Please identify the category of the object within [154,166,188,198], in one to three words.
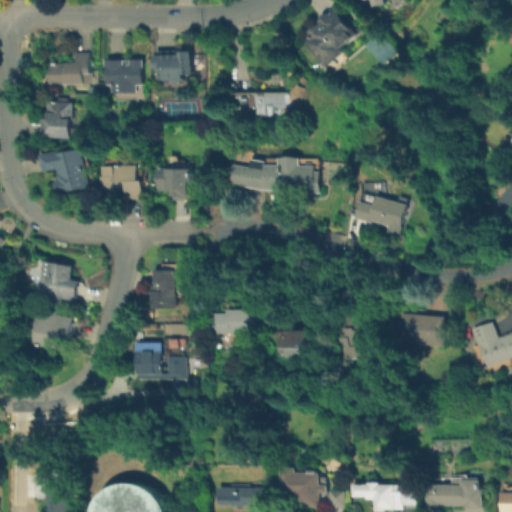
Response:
house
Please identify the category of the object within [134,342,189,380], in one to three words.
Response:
house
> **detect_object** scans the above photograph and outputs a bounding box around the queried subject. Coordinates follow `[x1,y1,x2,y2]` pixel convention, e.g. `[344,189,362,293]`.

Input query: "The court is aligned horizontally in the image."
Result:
[162,100,201,118]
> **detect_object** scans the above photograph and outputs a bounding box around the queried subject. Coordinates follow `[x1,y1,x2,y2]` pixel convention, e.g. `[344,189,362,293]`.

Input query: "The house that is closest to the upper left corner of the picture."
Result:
[46,48,96,86]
